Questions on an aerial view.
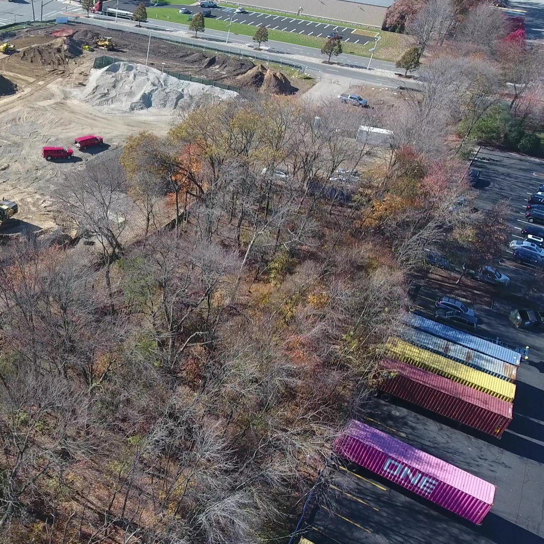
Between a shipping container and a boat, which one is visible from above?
shipping container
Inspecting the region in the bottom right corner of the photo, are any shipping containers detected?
Yes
